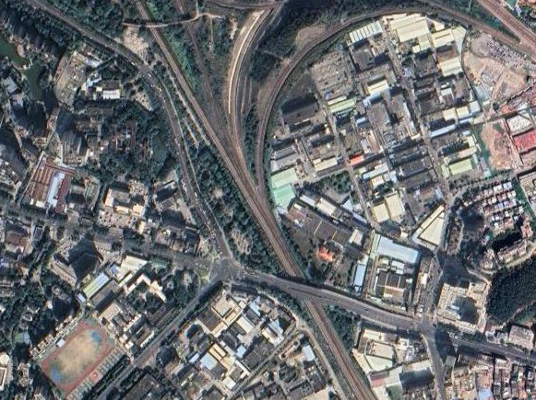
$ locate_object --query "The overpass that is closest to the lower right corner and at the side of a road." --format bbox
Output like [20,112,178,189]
[270,274,339,301]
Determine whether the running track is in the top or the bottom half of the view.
bottom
